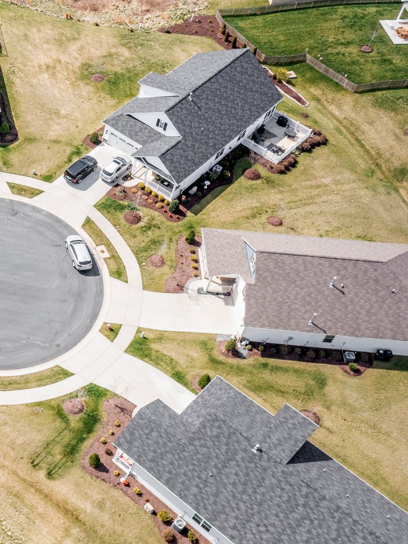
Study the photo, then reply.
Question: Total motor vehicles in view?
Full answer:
Altogether the scene contains 3 motor vehicles.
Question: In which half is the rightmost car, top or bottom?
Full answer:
Seen from above, the rightmost car lies in the top half of the view.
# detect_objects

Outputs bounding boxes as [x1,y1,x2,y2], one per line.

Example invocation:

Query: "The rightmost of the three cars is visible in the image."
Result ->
[98,155,134,184]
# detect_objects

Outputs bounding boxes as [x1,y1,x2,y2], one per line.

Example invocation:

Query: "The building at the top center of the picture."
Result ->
[100,48,316,199]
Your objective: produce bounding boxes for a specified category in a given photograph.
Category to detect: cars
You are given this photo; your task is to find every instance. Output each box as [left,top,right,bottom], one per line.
[64,235,94,273]
[64,156,99,185]
[98,155,134,184]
